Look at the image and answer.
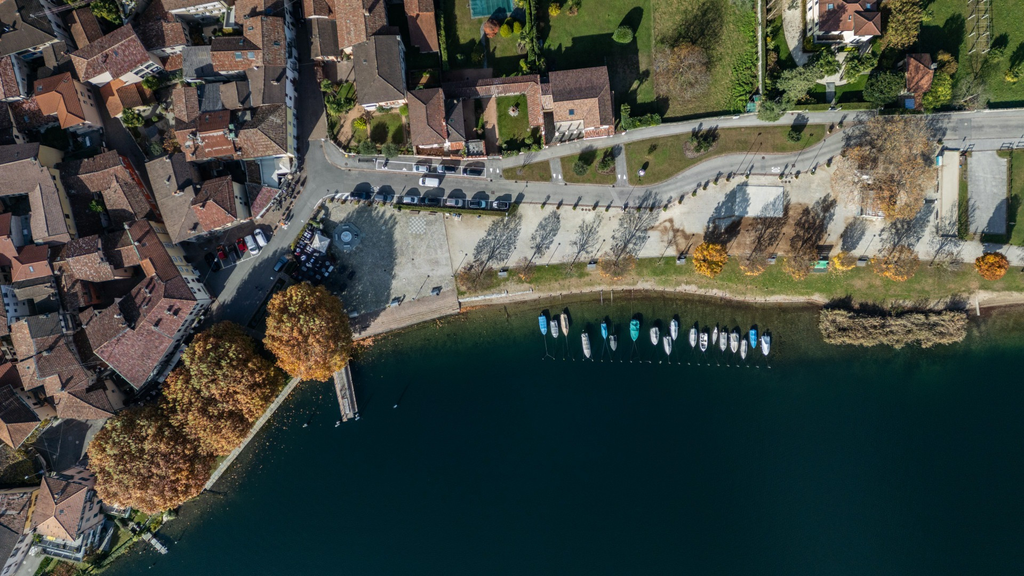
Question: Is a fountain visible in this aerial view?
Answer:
Yes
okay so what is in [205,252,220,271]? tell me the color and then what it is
black car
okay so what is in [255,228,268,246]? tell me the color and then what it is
white vehicle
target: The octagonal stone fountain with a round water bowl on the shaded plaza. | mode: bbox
[334,223,360,249]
